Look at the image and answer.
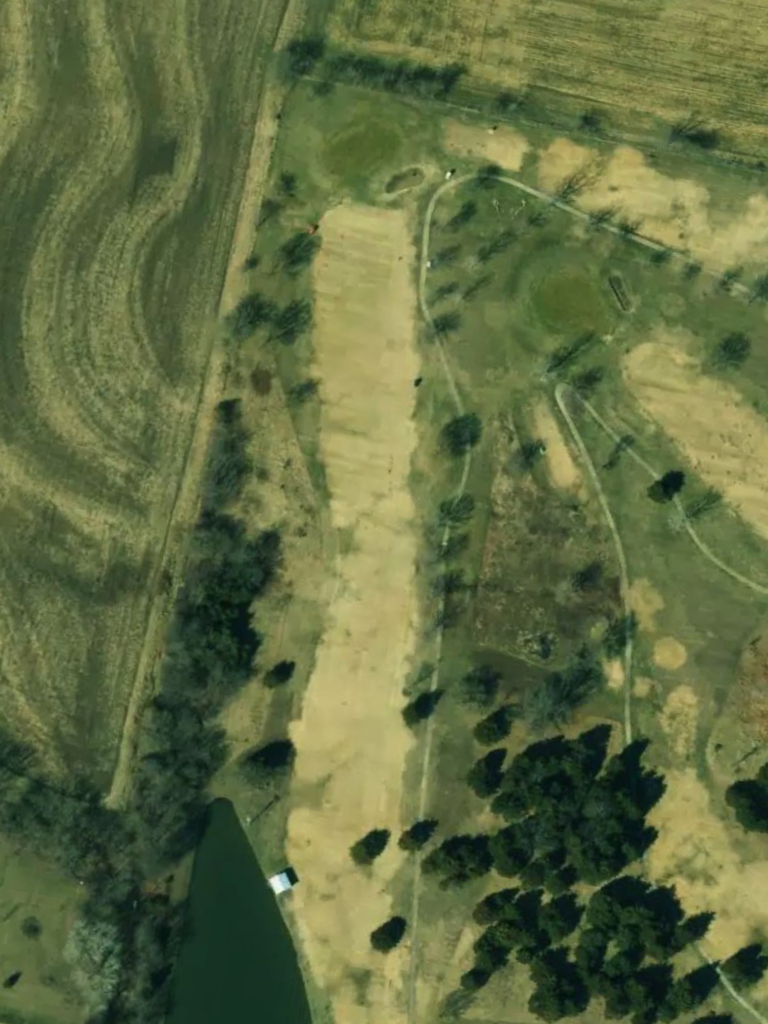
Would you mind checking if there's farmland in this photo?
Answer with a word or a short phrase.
Yes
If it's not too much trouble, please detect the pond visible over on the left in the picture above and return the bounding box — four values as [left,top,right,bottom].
[169,796,312,1024]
